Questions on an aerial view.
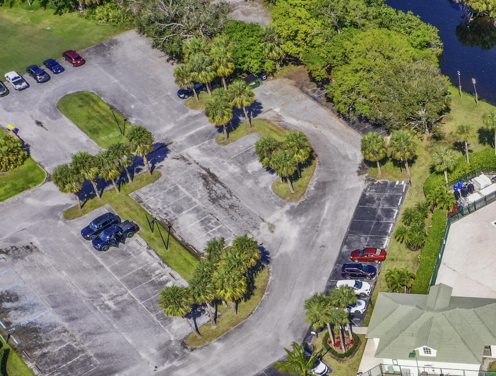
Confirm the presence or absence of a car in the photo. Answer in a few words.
Yes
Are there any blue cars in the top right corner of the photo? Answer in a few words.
No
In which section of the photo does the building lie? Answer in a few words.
bottom right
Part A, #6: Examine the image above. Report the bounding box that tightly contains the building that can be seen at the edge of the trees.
[365,281,496,376]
